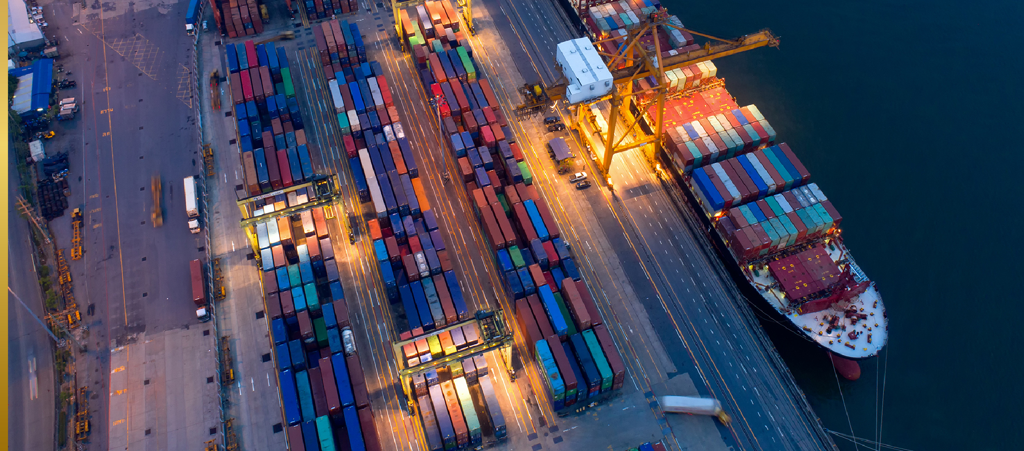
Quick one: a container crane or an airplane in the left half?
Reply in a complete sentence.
There is a container crane in the left half.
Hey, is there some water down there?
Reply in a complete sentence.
Yes, the picture does contain water.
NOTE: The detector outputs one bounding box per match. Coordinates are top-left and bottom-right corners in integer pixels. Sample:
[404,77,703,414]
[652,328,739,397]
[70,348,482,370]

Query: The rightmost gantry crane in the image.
[507,7,784,181]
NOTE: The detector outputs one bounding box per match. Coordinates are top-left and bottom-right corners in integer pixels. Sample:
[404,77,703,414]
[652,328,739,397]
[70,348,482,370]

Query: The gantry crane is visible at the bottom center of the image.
[386,300,517,418]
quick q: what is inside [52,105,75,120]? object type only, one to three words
vehicle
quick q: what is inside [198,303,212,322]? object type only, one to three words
vehicle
